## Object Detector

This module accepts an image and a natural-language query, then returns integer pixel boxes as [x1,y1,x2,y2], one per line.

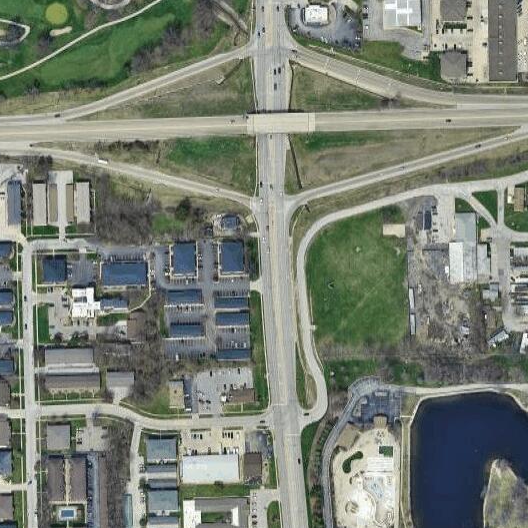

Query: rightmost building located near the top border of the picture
[488,0,516,81]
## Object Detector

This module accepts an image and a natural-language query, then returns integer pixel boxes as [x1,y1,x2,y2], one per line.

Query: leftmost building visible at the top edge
[305,4,328,27]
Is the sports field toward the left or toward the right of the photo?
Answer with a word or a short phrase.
right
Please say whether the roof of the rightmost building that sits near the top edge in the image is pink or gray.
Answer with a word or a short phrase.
gray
